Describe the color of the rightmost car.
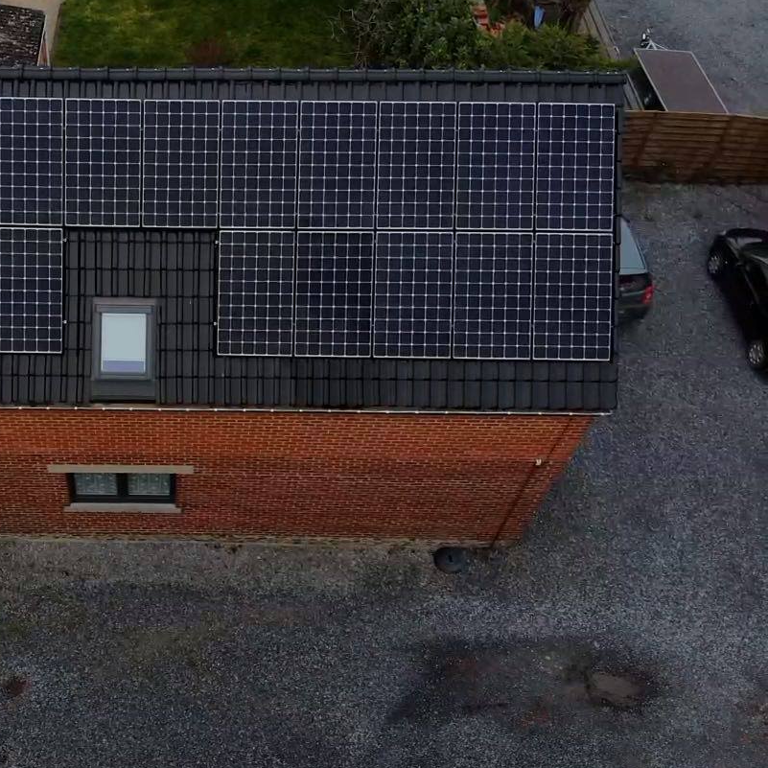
black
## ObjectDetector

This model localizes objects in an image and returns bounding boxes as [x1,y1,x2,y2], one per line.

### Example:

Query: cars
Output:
[617,207,657,325]
[709,234,768,373]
